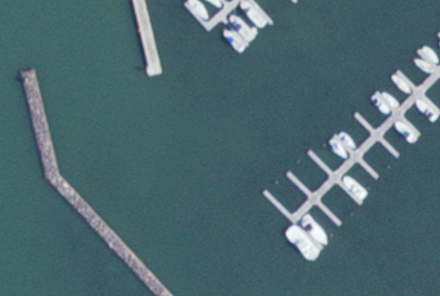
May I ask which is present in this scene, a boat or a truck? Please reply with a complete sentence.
It is a boat that can be seen here.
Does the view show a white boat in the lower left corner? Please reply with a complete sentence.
No, looking in the lower left corner, there is no white boat.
